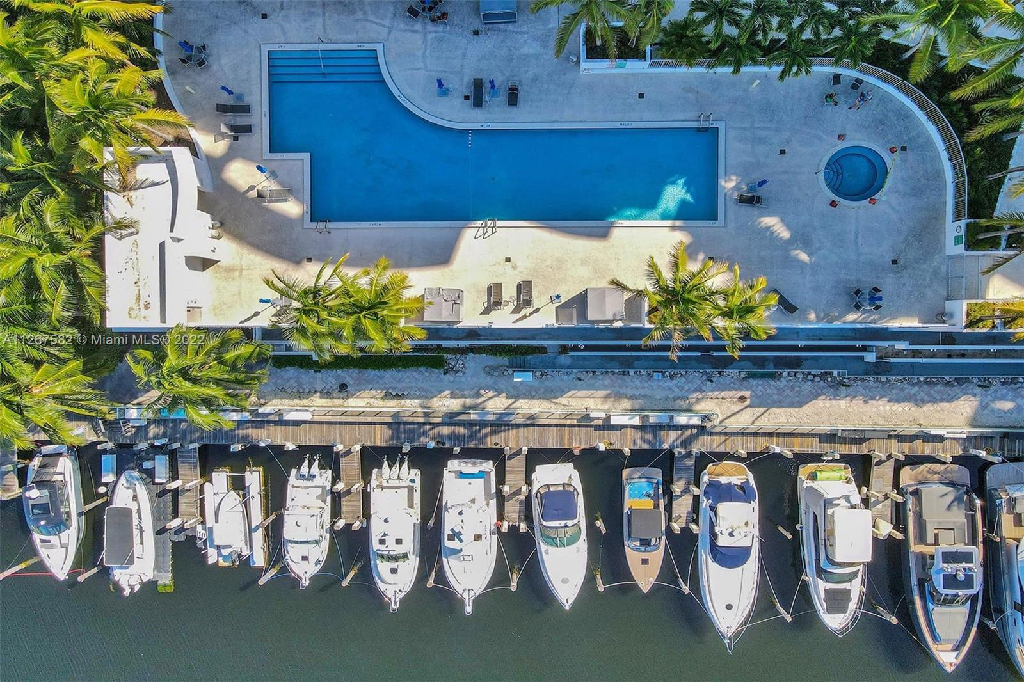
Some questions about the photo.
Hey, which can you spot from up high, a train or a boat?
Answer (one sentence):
Looking from above, you can make out a boat.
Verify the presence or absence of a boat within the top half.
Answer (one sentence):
No, there's no boat to be seen within the top half.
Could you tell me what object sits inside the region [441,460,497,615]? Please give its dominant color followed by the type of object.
white boat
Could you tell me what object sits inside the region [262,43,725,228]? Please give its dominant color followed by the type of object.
blue swimming pool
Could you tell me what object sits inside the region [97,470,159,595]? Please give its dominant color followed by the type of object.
white boat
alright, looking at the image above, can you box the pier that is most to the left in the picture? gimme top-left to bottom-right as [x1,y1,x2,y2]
[0,440,22,500]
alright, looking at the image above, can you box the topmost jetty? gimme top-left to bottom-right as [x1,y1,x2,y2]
[1,421,1024,457]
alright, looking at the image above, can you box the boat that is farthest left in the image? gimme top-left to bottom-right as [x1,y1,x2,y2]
[19,446,87,581]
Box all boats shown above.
[976,461,1024,682]
[218,489,250,568]
[895,464,991,673]
[441,460,497,615]
[622,467,668,593]
[697,461,763,656]
[531,463,588,610]
[367,456,422,613]
[97,470,159,595]
[793,463,879,641]
[19,446,87,581]
[281,456,335,589]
